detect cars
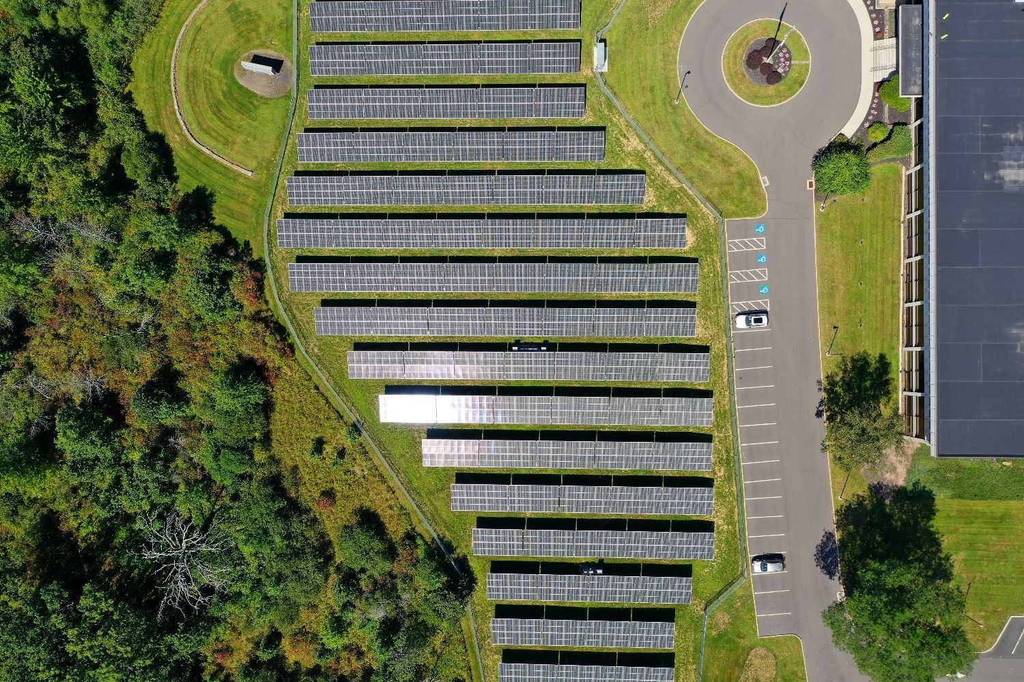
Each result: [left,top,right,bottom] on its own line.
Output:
[734,313,768,328]
[750,558,783,574]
